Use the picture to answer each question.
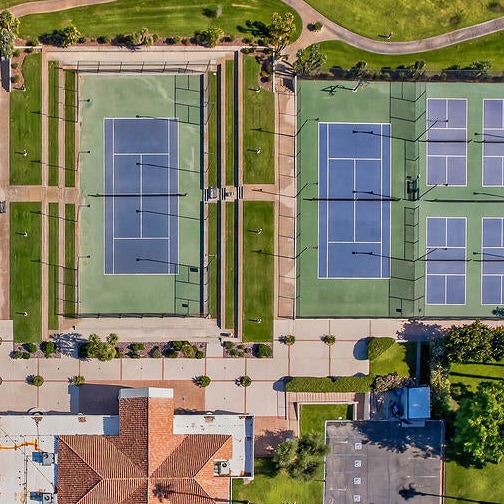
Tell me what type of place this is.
sports ground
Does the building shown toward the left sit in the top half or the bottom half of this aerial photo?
bottom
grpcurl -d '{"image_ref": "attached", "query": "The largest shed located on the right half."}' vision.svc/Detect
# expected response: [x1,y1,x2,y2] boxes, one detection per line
[401,387,430,426]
